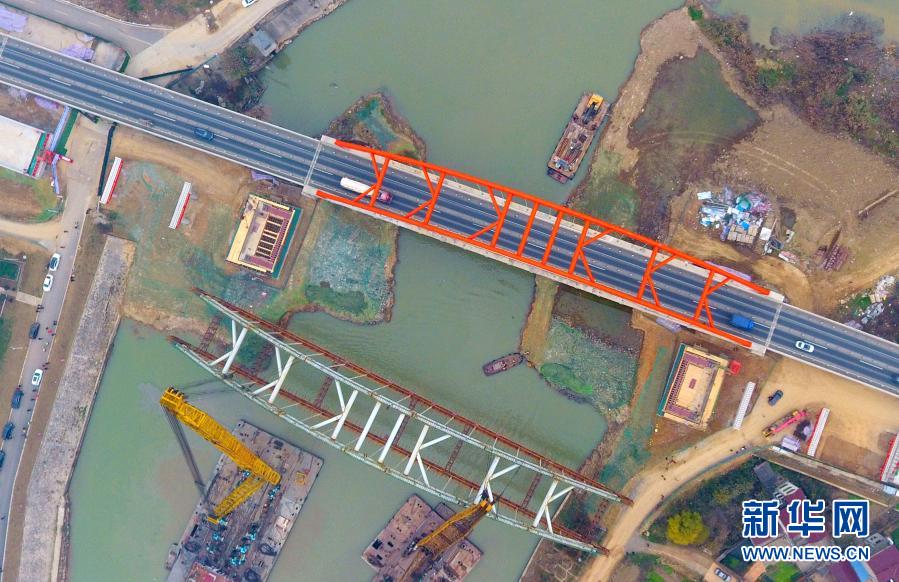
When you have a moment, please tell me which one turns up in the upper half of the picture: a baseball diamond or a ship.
ship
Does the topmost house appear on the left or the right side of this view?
left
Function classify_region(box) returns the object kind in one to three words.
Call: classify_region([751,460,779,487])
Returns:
house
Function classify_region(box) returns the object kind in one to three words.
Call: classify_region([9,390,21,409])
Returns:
vehicle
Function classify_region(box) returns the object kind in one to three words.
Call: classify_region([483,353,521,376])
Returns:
boat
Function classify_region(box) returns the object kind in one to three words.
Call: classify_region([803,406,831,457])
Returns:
shed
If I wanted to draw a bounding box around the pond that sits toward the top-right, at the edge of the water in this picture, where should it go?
[629,47,760,147]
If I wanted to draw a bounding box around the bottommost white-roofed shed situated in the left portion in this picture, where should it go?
[169,182,194,230]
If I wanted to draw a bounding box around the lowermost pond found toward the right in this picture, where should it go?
[553,284,645,347]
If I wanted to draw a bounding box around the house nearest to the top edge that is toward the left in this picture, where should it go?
[251,29,278,58]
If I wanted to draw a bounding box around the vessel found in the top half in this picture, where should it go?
[547,91,609,187]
